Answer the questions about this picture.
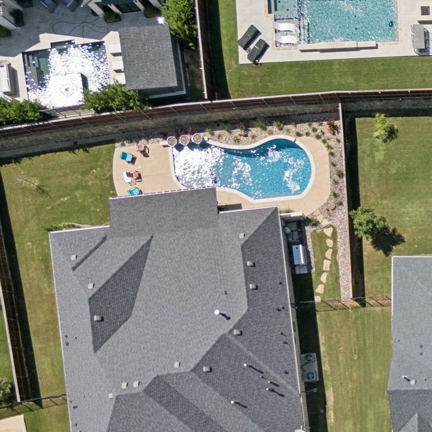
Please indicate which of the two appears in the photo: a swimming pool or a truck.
swimming pool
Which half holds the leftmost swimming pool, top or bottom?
top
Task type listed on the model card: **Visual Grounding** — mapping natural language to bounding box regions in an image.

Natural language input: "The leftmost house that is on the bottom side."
[47,186,306,432]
